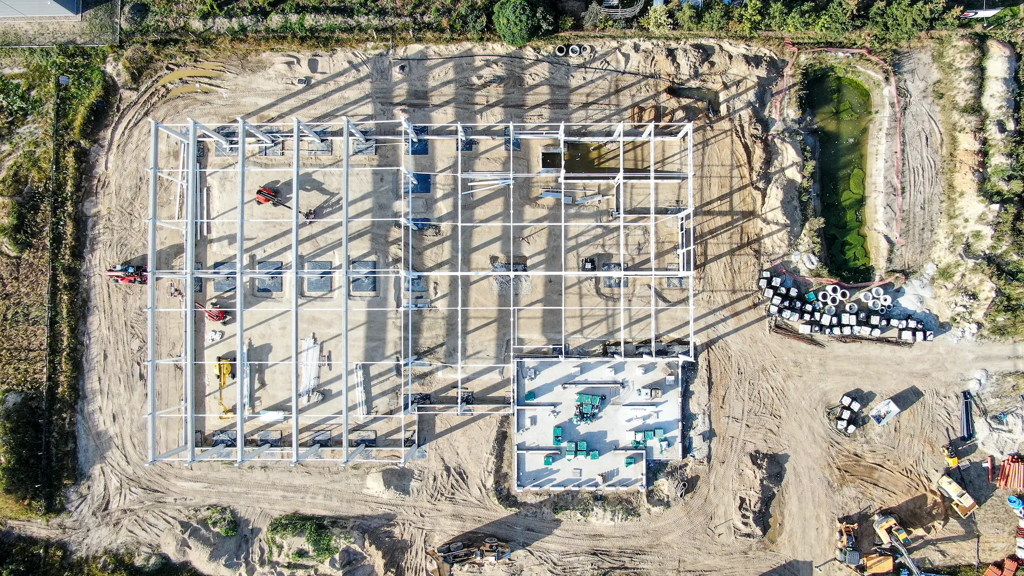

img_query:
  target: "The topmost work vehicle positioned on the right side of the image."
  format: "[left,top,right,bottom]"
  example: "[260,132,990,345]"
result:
[940,427,962,471]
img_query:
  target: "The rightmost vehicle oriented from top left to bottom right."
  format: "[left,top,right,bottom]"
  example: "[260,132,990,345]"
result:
[933,471,985,520]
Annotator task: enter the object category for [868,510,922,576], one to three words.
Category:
work vehicle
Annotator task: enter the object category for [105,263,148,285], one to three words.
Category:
work vehicle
